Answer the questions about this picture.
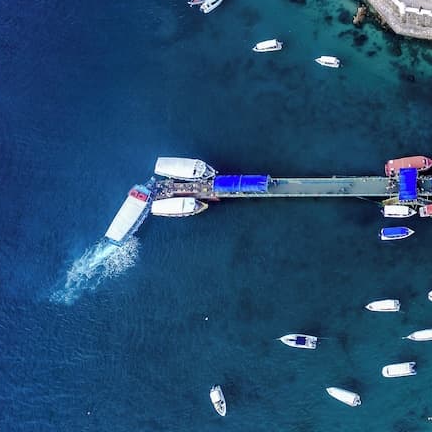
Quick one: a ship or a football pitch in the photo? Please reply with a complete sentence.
There is a ship in the scene.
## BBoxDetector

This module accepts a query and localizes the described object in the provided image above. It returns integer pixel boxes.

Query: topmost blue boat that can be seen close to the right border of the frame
[379,227,414,240]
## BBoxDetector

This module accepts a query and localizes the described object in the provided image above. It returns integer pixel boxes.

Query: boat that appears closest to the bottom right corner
[382,363,418,377]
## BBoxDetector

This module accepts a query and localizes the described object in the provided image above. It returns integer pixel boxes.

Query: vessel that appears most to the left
[107,184,161,250]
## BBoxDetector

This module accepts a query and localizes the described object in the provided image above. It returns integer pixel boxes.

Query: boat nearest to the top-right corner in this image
[316,55,344,68]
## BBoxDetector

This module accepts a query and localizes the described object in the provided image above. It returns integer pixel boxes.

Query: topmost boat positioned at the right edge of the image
[385,154,432,176]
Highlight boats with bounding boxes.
[418,203,432,217]
[327,388,364,408]
[275,335,320,350]
[366,299,403,313]
[316,55,344,68]
[150,155,218,180]
[253,37,283,51]
[379,227,414,240]
[209,382,225,416]
[380,203,417,217]
[148,195,209,216]
[385,154,432,176]
[200,0,224,14]
[382,363,418,377]
[404,328,432,341]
